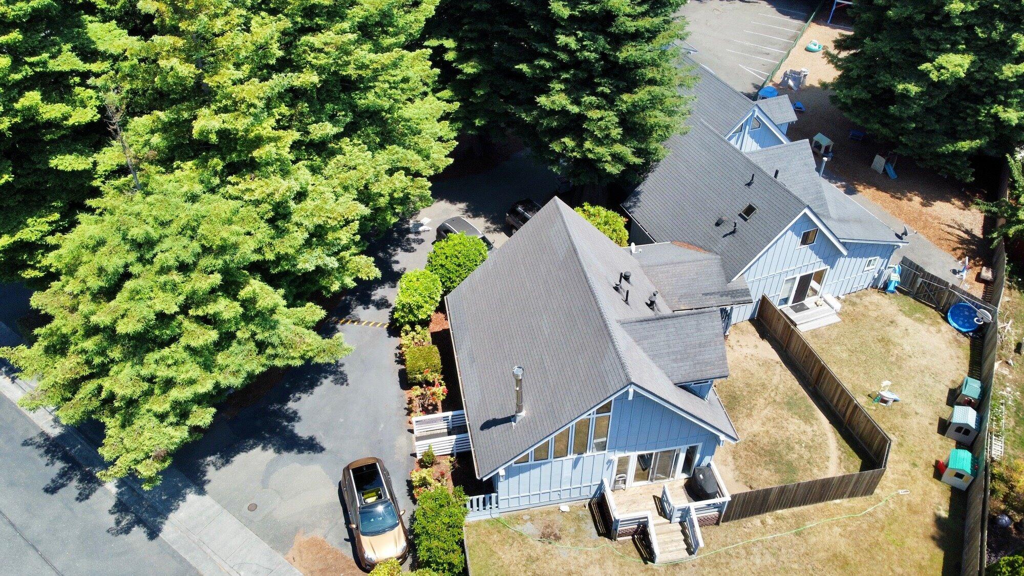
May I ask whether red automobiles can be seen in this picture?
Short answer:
No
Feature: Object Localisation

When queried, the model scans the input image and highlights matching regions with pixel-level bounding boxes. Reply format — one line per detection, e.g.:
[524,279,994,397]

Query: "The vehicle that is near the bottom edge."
[344,460,410,572]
